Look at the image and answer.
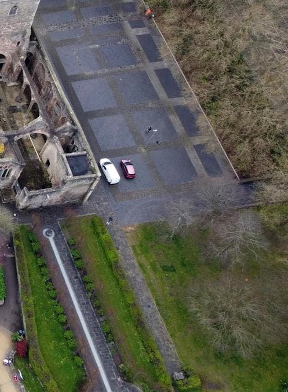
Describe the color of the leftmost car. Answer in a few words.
white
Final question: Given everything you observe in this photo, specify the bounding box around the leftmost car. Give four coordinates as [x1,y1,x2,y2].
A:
[100,156,122,184]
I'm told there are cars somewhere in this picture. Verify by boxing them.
[121,158,139,181]
[100,156,122,184]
